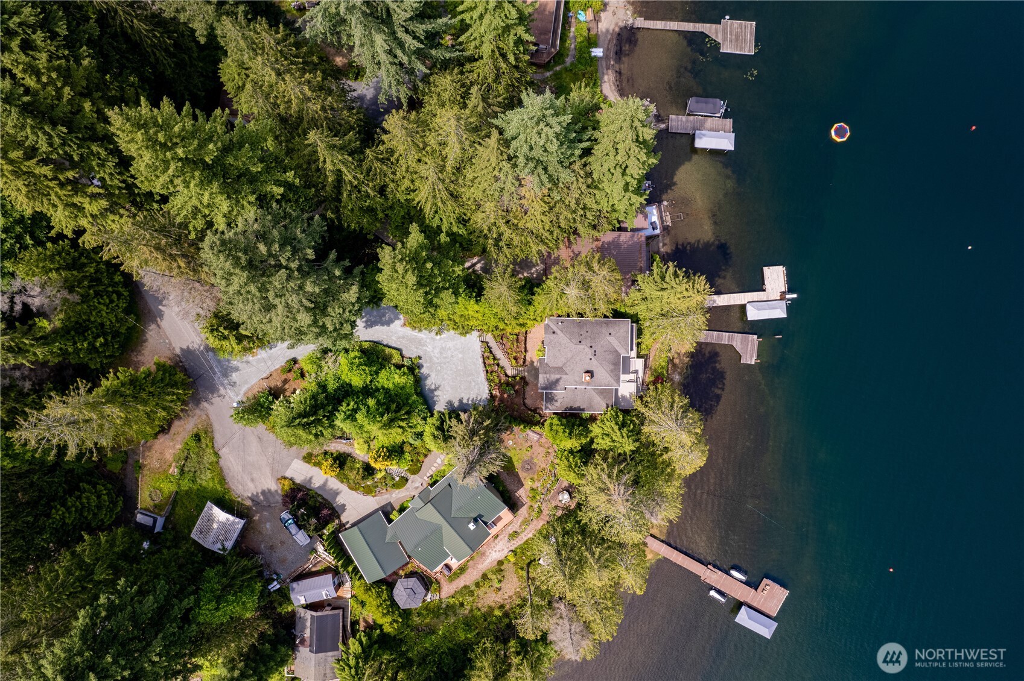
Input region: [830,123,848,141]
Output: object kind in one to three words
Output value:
trampoline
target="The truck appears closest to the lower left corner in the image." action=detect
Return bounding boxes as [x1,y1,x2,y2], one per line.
[278,512,309,549]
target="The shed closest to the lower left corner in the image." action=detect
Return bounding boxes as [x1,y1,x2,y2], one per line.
[134,510,167,533]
